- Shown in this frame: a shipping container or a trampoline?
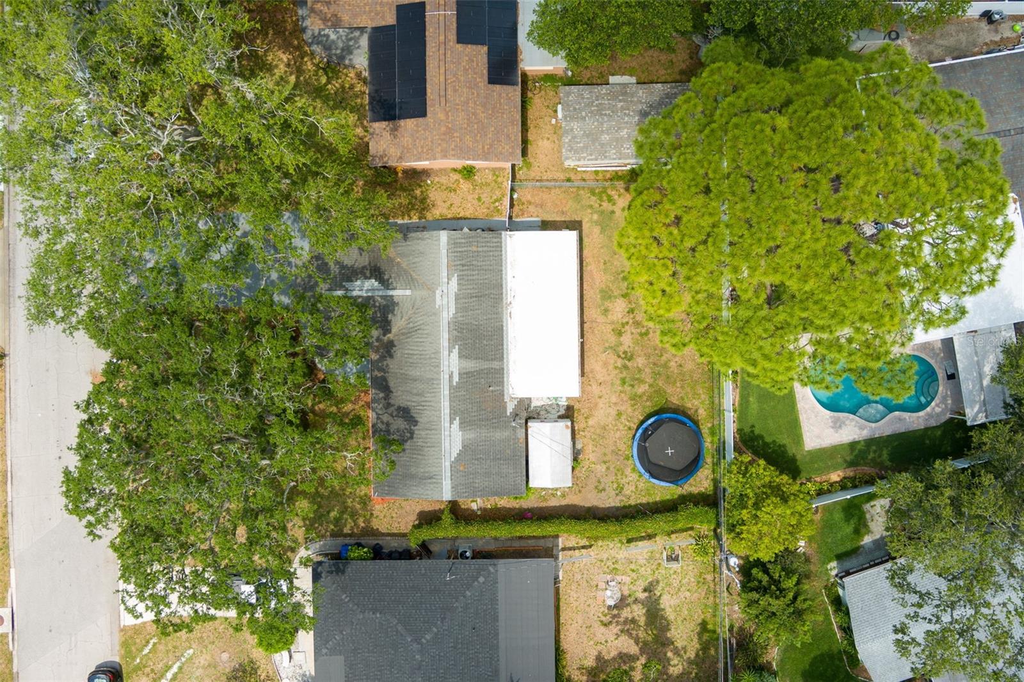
trampoline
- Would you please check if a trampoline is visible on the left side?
No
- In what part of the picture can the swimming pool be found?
right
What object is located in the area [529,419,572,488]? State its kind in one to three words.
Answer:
shed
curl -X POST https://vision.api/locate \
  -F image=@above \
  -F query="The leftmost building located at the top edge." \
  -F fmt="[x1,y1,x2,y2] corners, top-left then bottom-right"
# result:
[305,0,567,167]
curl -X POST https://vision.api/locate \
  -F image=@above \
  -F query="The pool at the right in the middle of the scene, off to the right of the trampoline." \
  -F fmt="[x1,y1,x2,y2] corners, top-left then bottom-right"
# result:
[792,339,963,450]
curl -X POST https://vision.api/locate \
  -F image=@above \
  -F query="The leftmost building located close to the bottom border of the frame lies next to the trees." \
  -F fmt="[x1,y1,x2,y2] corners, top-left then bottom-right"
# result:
[311,556,556,682]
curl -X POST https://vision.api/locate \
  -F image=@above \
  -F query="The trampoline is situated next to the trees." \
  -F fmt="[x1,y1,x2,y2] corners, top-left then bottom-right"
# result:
[628,410,710,490]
